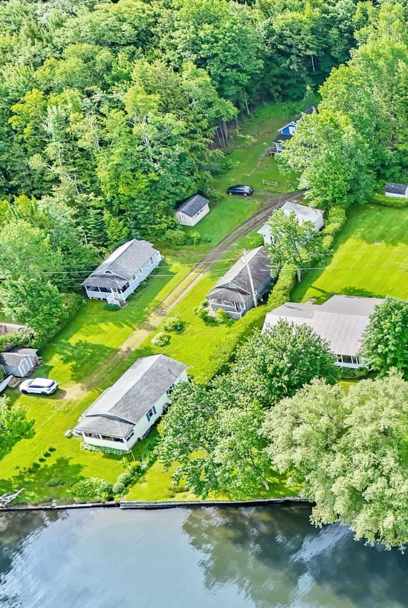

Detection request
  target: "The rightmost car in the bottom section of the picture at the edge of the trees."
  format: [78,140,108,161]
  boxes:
[15,376,60,397]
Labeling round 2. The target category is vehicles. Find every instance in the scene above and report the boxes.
[225,185,254,196]
[15,376,60,397]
